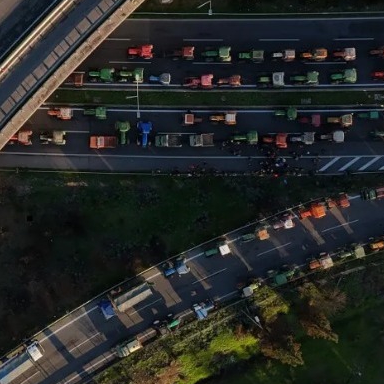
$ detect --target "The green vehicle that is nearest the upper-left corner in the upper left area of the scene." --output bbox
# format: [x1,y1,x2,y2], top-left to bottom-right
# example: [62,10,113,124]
[84,67,113,83]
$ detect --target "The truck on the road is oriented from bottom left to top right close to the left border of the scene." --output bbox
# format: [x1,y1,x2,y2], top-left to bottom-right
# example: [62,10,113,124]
[0,344,52,384]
